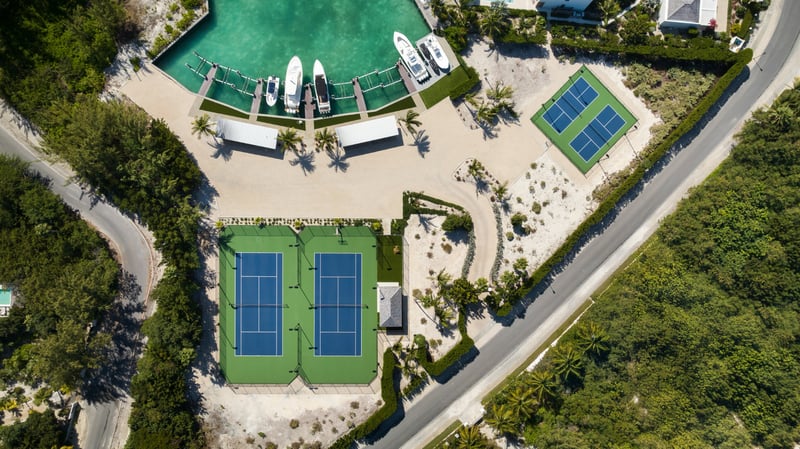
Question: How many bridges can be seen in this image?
0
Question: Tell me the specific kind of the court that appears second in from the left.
tennis court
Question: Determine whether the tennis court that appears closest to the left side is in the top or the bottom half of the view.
bottom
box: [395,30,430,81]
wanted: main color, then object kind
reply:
white boat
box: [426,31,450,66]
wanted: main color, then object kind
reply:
white boat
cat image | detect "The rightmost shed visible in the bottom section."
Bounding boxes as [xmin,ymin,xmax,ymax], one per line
[377,280,402,326]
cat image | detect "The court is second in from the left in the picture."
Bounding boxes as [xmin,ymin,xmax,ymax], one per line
[298,226,377,384]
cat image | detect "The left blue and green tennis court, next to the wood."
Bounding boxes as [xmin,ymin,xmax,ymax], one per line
[219,226,298,384]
